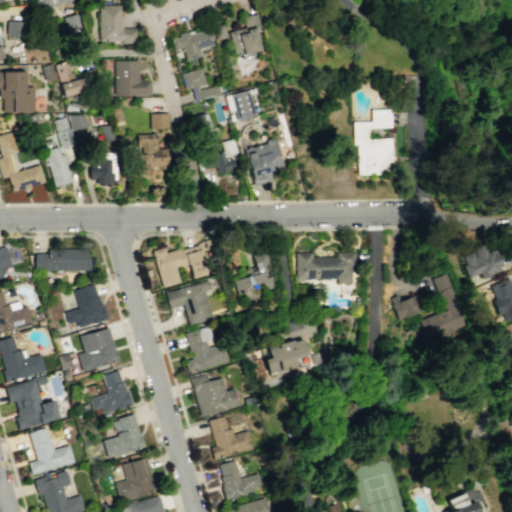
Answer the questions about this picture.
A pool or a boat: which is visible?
pool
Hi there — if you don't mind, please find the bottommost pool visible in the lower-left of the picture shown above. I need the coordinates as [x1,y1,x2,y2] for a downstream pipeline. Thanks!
[52,375,65,397]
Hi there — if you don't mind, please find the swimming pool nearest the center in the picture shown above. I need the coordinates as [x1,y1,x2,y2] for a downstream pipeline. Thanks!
[328,290,351,308]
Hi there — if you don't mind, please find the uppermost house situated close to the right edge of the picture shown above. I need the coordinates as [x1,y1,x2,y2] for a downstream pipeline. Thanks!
[466,248,508,282]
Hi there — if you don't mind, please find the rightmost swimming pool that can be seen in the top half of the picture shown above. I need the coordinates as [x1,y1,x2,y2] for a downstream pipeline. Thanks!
[355,90,372,116]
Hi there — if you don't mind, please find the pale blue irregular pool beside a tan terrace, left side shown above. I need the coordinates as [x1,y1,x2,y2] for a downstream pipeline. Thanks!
[14,284,40,309]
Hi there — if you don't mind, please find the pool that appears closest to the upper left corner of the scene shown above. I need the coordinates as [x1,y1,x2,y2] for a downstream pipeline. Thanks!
[214,102,227,123]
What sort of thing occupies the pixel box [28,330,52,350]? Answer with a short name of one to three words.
swimming pool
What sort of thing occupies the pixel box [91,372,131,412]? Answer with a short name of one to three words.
house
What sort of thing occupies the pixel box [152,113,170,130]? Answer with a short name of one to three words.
building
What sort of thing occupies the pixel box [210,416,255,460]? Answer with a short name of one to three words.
house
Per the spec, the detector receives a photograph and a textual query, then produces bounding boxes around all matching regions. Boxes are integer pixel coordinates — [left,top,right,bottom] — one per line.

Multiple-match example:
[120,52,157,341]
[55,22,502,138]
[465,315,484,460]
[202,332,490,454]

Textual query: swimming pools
[355,90,372,116]
[52,375,65,397]
[415,495,432,512]
[328,290,351,308]
[14,284,40,309]
[214,102,227,123]
[28,330,52,350]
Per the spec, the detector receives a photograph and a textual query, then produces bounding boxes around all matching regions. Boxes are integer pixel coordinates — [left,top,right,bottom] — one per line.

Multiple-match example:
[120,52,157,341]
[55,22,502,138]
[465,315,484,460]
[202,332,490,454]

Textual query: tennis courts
[358,461,404,512]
